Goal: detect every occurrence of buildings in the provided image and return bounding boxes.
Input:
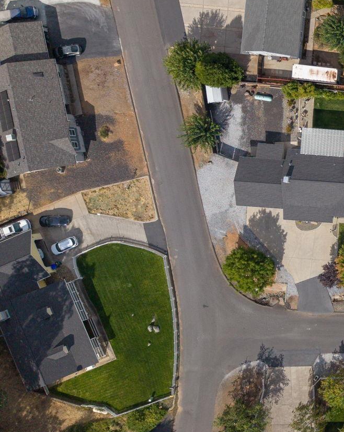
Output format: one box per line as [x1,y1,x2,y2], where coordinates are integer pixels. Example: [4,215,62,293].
[0,20,90,180]
[0,229,109,391]
[206,85,232,104]
[233,143,344,223]
[240,0,311,60]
